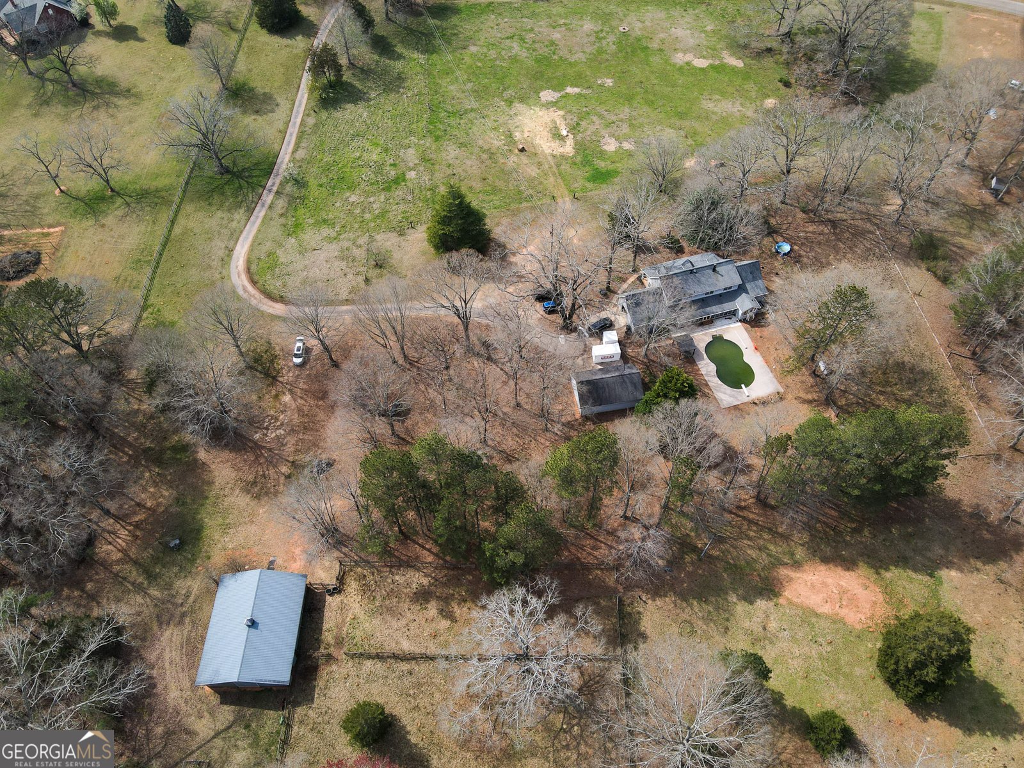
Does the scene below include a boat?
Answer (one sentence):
No, there isn't any boat down there.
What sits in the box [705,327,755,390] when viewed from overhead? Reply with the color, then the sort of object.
green swimming pool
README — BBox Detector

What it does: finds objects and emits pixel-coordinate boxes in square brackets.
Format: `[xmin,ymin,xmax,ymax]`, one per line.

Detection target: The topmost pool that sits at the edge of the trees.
[775,241,792,257]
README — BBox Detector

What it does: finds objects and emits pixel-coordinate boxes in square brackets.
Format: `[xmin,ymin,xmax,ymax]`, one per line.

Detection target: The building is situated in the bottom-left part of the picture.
[193,570,309,687]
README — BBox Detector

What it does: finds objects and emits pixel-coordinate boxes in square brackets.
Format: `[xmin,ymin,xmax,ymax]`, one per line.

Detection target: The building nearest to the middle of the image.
[573,367,642,414]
